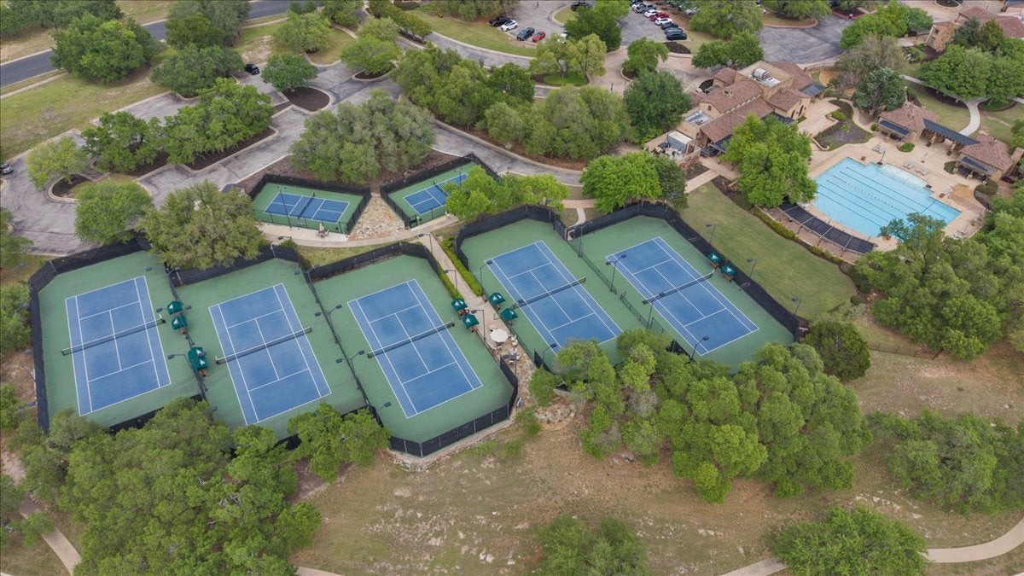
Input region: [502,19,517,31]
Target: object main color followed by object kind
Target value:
white vehicle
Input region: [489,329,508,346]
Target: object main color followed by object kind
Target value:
white umbrella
